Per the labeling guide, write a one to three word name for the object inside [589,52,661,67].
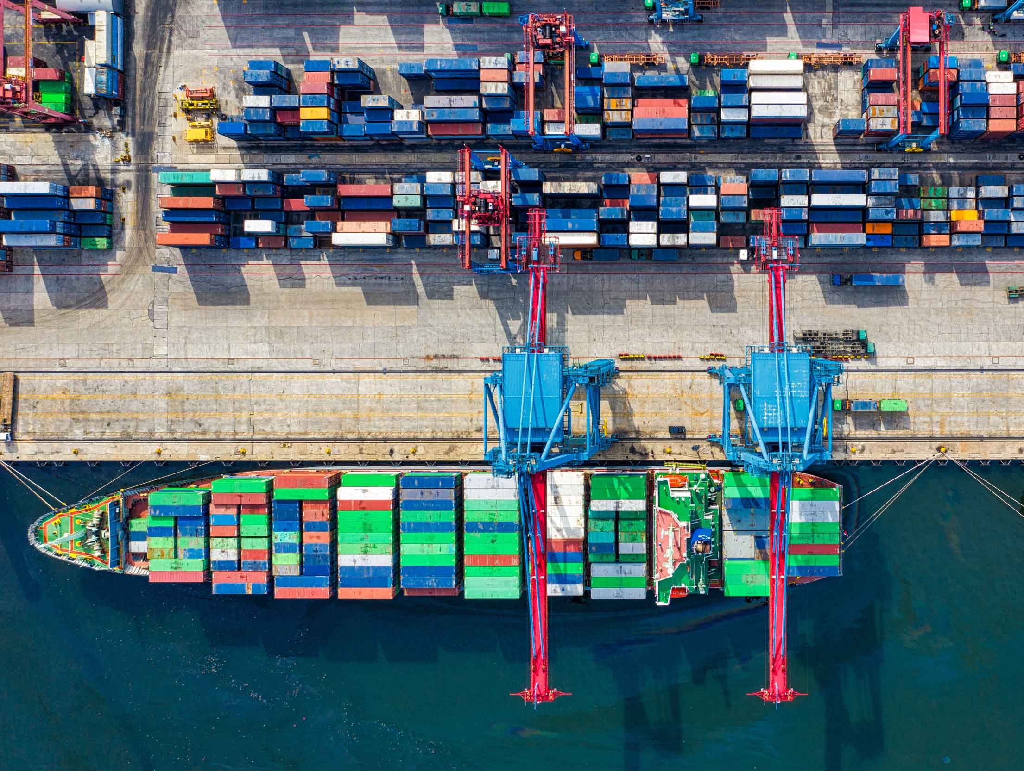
vehicle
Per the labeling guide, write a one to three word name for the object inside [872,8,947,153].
container crane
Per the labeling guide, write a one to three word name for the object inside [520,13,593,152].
container crane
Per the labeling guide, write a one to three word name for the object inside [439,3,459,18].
vehicle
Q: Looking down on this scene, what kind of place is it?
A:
port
